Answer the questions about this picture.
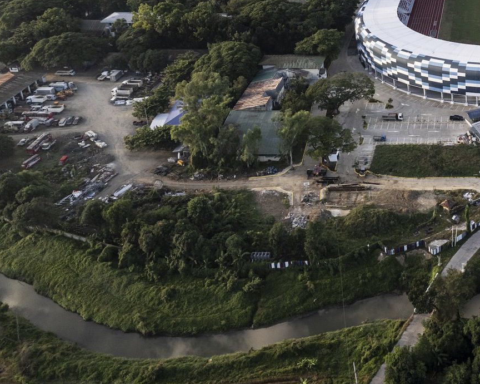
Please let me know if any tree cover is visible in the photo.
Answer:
Yes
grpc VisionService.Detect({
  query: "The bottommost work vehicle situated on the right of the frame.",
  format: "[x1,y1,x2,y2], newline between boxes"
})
[310,160,333,175]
